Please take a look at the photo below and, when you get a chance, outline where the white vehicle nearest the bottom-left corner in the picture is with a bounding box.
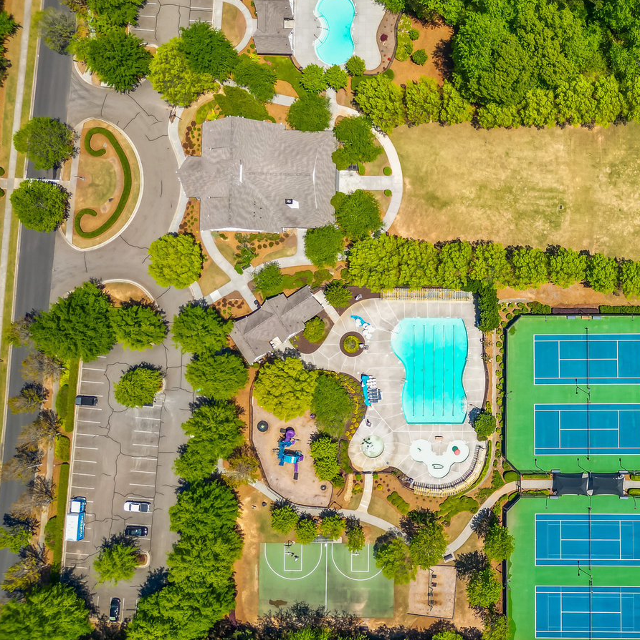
[65,502,86,544]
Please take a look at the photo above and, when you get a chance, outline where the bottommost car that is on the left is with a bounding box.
[110,597,122,621]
